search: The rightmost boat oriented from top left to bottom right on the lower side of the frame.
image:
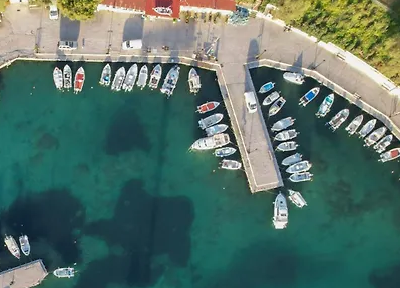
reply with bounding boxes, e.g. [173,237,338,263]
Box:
[287,189,305,207]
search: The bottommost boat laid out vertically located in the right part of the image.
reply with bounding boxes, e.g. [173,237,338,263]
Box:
[269,185,289,231]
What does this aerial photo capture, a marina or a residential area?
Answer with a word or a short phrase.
marina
